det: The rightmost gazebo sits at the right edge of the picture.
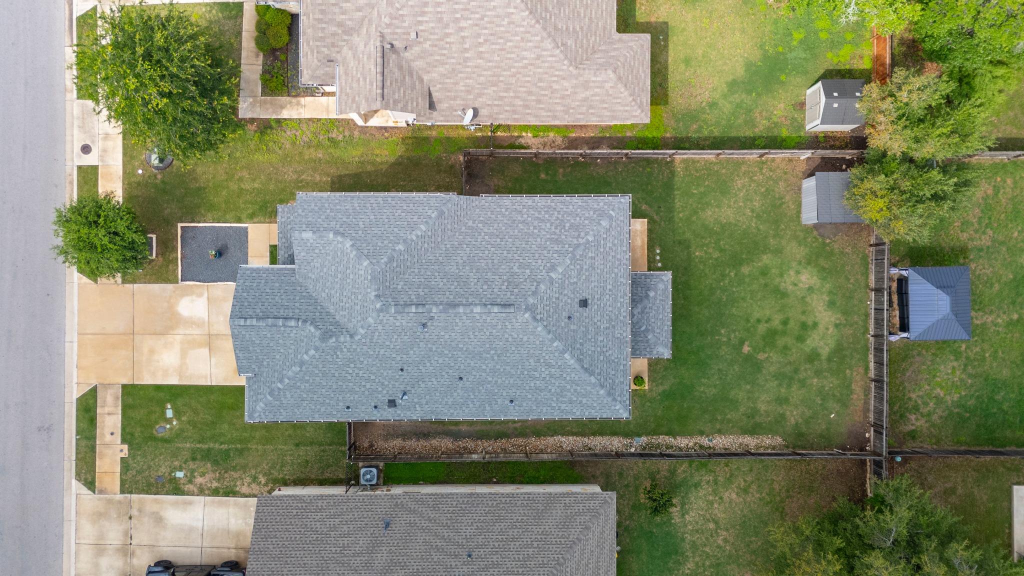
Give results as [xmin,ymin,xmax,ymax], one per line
[882,265,973,341]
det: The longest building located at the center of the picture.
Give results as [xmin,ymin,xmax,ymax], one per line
[229,191,673,422]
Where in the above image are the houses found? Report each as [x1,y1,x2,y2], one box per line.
[256,0,651,129]
[247,483,617,576]
[229,191,673,422]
